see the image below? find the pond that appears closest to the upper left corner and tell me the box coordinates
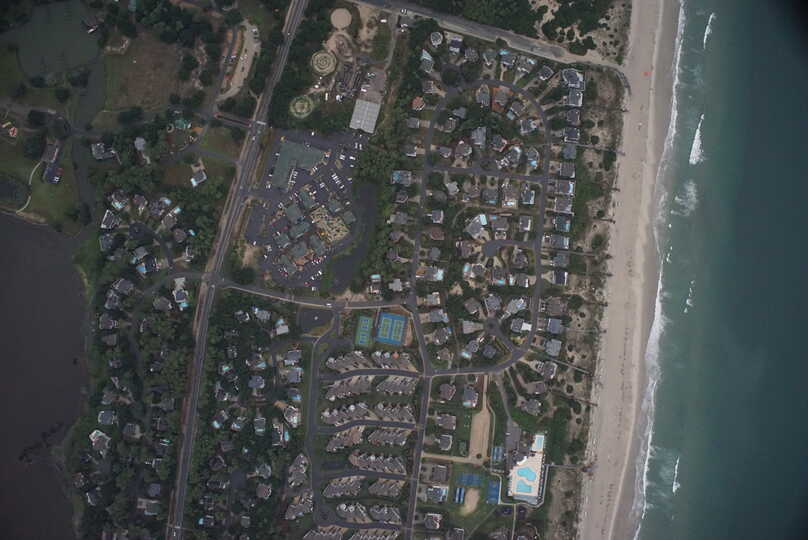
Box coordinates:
[0,0,107,128]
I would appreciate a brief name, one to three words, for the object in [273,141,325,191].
building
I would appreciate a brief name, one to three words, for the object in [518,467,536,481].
swimming pool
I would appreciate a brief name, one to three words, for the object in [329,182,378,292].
pond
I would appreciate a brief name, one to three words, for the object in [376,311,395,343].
tennis court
